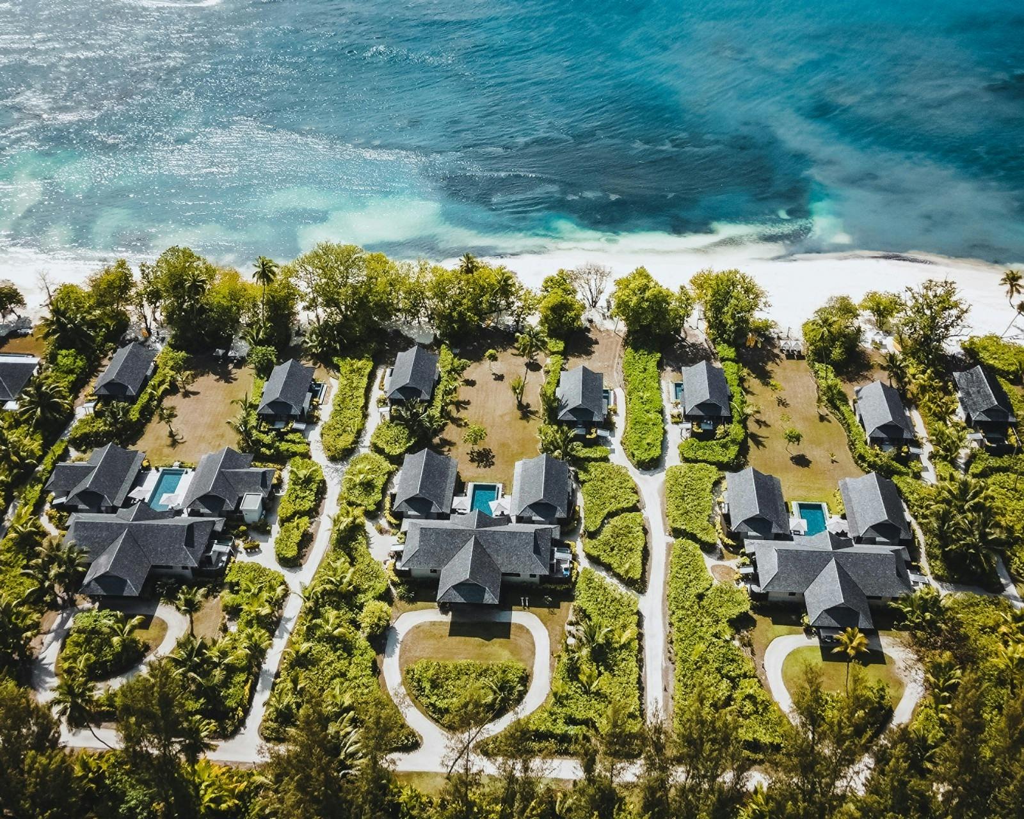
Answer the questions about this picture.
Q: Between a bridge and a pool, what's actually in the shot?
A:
pool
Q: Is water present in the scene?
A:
Yes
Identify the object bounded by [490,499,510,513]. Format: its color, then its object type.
white umbrella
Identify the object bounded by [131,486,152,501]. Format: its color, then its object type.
white umbrella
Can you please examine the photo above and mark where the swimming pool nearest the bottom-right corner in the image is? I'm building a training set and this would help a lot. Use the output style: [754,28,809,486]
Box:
[790,500,829,543]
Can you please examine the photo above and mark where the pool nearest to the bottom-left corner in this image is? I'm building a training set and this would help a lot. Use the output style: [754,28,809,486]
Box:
[133,465,193,517]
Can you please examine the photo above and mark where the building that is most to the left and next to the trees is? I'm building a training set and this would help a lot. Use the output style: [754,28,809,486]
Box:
[0,355,42,414]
